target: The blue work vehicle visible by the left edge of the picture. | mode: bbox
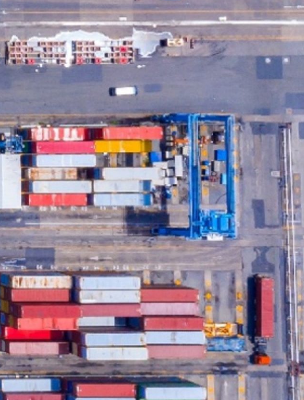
[0,134,28,151]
